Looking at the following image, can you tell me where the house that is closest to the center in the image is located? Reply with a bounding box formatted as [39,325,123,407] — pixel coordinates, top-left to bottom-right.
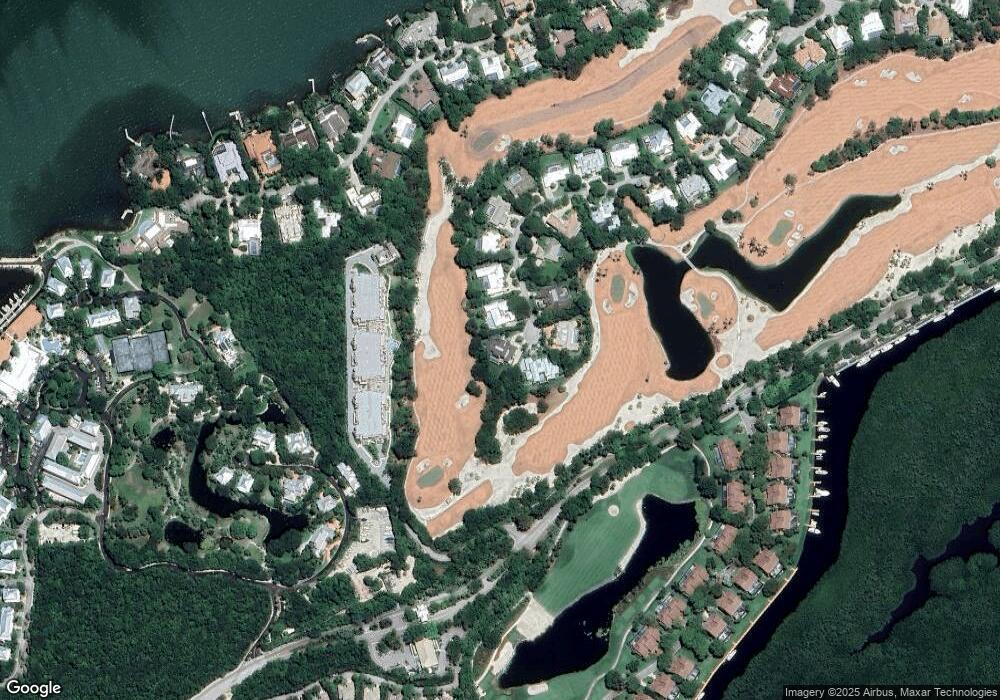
[483,332,522,364]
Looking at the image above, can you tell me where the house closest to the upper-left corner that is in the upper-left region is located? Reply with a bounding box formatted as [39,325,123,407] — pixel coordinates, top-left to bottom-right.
[130,146,167,177]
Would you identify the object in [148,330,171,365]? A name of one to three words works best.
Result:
tennis court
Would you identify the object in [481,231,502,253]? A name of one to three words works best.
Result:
house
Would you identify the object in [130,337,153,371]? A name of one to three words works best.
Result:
tennis court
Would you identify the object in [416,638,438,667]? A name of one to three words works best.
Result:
building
